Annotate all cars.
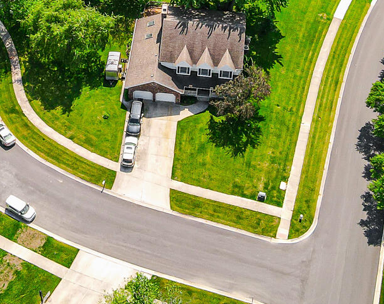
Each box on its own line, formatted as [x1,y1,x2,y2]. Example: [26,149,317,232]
[0,123,18,148]
[5,194,36,221]
[126,104,143,136]
[119,137,138,169]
